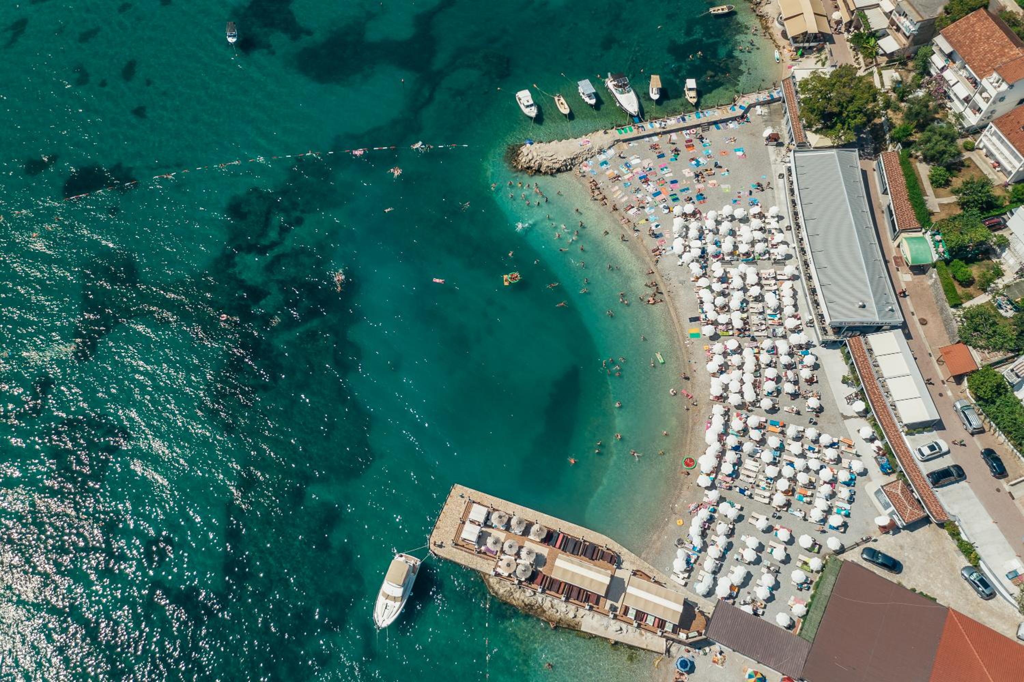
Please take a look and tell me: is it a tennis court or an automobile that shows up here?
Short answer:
automobile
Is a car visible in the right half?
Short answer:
Yes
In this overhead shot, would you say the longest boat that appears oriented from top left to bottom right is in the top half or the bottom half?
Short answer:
top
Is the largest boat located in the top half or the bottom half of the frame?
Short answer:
bottom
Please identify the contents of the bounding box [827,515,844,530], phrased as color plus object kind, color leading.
white umbrella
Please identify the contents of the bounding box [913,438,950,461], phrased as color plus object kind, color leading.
white car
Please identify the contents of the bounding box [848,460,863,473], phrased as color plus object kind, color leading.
white umbrella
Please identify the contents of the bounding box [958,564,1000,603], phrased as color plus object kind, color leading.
gray car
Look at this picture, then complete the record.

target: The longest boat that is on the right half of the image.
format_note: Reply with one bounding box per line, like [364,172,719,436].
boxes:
[601,68,638,117]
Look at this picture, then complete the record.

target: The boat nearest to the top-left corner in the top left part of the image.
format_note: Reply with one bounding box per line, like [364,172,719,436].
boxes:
[224,16,237,45]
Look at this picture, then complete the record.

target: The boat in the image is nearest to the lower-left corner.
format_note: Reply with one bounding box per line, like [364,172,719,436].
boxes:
[374,548,422,629]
